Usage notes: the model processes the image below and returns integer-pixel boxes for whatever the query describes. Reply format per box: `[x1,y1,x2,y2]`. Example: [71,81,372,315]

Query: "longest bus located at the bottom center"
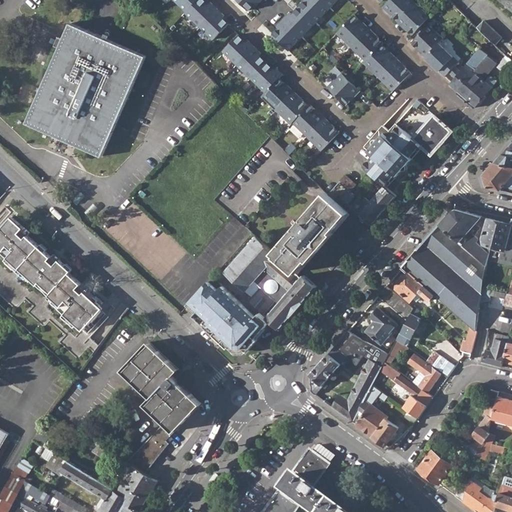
[200,424,222,460]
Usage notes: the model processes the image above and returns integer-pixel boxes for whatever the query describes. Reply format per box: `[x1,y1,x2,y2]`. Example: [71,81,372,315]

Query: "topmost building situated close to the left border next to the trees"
[24,25,147,158]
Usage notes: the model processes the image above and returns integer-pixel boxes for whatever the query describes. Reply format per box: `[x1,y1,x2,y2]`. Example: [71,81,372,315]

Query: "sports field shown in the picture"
[136,97,270,253]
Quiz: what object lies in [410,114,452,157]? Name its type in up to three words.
house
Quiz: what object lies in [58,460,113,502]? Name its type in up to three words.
shed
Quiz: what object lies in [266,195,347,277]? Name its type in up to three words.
building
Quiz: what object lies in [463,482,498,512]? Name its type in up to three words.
house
